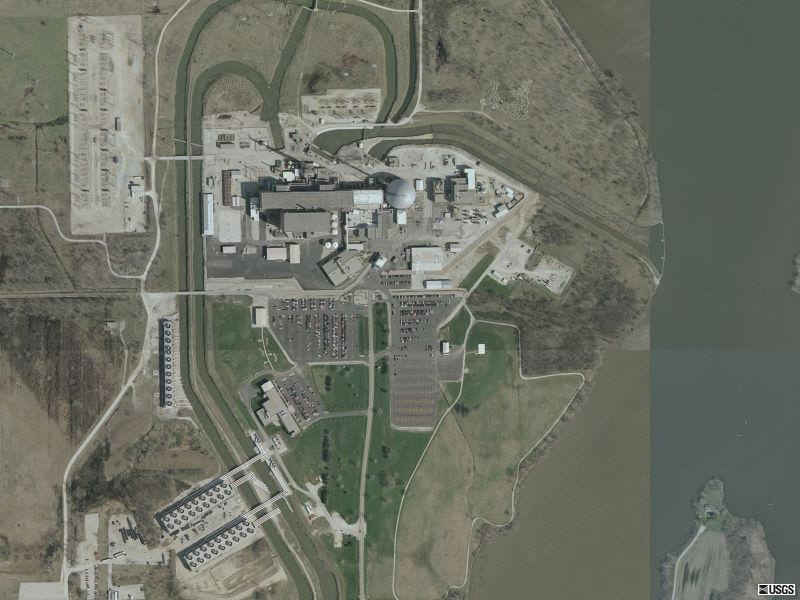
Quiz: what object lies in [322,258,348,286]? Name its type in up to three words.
building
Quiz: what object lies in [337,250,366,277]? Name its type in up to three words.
building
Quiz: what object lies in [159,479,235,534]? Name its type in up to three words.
cooling tower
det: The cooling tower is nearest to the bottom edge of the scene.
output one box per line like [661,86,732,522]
[182,516,258,571]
